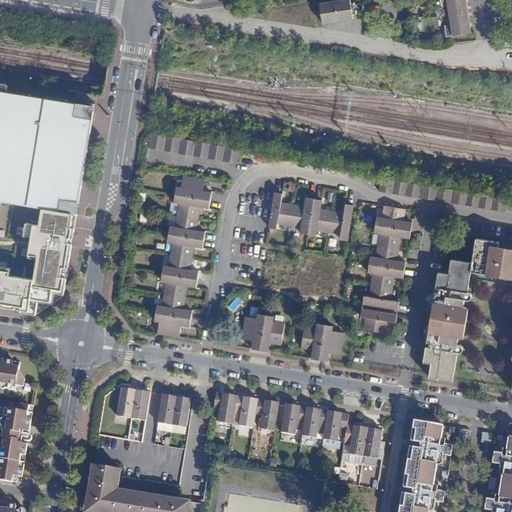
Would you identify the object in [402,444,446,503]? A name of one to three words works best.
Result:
building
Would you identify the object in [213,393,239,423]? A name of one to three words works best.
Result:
house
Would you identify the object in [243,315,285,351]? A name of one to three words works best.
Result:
house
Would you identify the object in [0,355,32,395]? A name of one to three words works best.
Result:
building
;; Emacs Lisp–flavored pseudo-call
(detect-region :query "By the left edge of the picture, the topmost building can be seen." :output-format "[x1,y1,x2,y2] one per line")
[0,92,94,212]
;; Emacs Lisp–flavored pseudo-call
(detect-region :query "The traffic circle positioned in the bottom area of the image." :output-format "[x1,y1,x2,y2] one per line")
[58,317,105,370]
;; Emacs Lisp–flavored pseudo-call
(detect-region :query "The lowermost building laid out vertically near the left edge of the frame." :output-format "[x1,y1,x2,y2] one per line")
[0,402,36,486]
